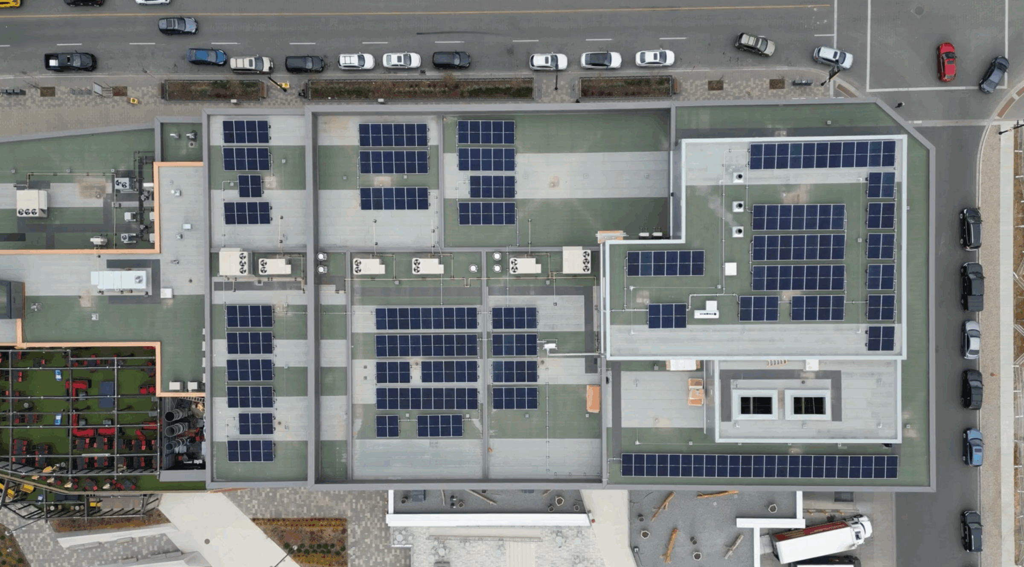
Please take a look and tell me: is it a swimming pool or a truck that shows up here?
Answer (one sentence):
I can see a truck in this picture.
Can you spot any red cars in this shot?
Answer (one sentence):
Yes, there is a red car in the image.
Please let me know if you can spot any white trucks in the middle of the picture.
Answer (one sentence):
No, no white truck is visible in the middle of the picture.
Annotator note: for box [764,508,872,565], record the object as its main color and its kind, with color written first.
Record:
white truck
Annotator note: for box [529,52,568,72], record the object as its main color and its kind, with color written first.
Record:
white car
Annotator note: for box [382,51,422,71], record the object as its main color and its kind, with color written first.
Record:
white car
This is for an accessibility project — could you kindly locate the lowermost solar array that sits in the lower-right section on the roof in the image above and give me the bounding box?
[619,454,900,478]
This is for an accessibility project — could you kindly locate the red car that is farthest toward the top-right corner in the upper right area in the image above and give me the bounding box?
[935,43,958,83]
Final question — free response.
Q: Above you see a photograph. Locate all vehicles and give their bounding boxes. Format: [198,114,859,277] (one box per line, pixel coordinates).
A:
[284,54,325,74]
[431,50,471,70]
[959,511,984,553]
[337,52,376,72]
[580,50,621,70]
[0,0,23,9]
[979,57,1008,96]
[787,551,854,567]
[529,52,568,72]
[960,370,984,411]
[382,51,422,71]
[935,43,958,83]
[960,321,983,360]
[812,46,853,70]
[959,208,984,250]
[635,48,675,69]
[959,263,985,312]
[42,51,98,74]
[961,428,984,468]
[186,47,228,67]
[229,54,274,75]
[764,508,872,565]
[734,32,775,59]
[156,15,200,37]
